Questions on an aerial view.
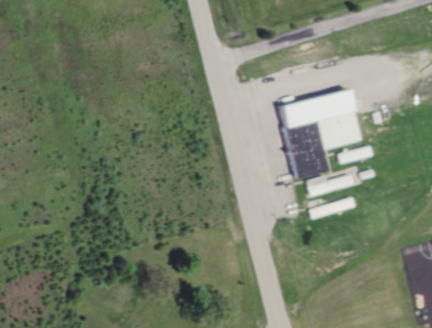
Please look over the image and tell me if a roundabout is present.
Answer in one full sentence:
No, I find no roundabout anywhere in the image.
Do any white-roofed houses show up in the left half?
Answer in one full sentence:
No, no white-roofed house is visible in the left half.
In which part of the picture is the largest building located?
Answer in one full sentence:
The largest building appears toward the right of the photo.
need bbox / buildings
[310,196,356,218]
[309,175,354,196]
[279,89,364,180]
[338,146,373,164]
